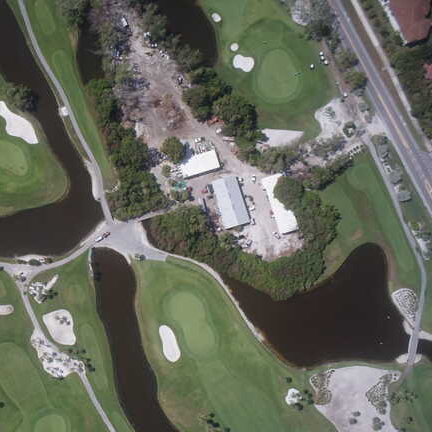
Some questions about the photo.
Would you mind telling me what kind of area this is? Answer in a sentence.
The area seen from above is a golf course.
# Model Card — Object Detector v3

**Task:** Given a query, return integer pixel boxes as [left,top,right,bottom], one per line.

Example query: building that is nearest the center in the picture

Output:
[212,176,250,229]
